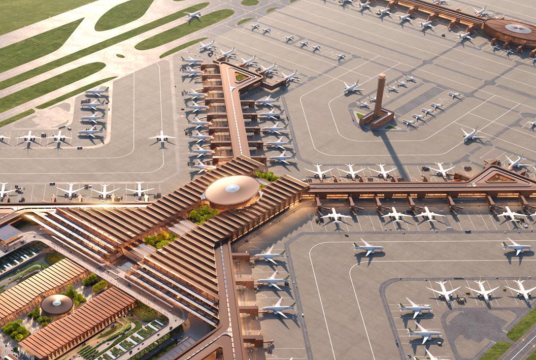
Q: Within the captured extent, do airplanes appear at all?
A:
Yes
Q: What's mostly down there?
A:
paved ground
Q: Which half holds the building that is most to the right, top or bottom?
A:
top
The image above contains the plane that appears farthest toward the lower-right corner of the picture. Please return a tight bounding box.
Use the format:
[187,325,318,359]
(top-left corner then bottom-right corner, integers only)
[507,278,536,301]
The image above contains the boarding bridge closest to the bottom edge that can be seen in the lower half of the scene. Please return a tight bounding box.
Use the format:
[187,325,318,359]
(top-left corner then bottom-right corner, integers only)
[243,334,274,348]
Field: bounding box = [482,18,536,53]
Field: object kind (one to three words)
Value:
building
